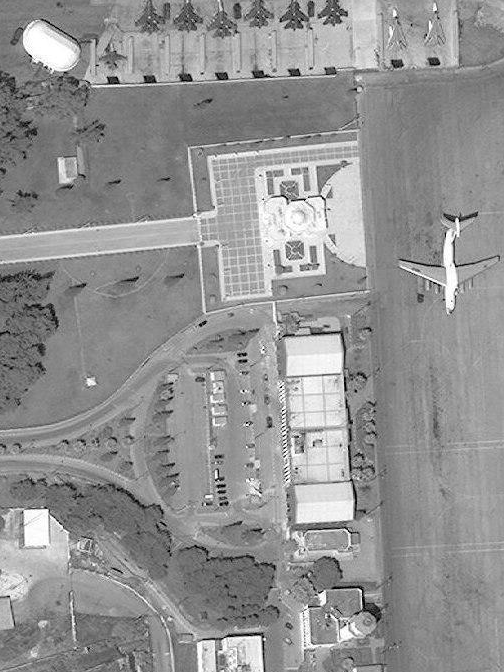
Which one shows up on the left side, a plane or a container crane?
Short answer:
plane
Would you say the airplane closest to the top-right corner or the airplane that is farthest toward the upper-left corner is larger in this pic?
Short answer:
the airplane closest to the top-right corner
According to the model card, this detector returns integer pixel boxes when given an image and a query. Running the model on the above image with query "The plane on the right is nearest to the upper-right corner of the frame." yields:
[421,3,452,45]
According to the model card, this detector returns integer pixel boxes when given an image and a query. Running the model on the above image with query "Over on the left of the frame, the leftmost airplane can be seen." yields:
[97,42,128,69]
